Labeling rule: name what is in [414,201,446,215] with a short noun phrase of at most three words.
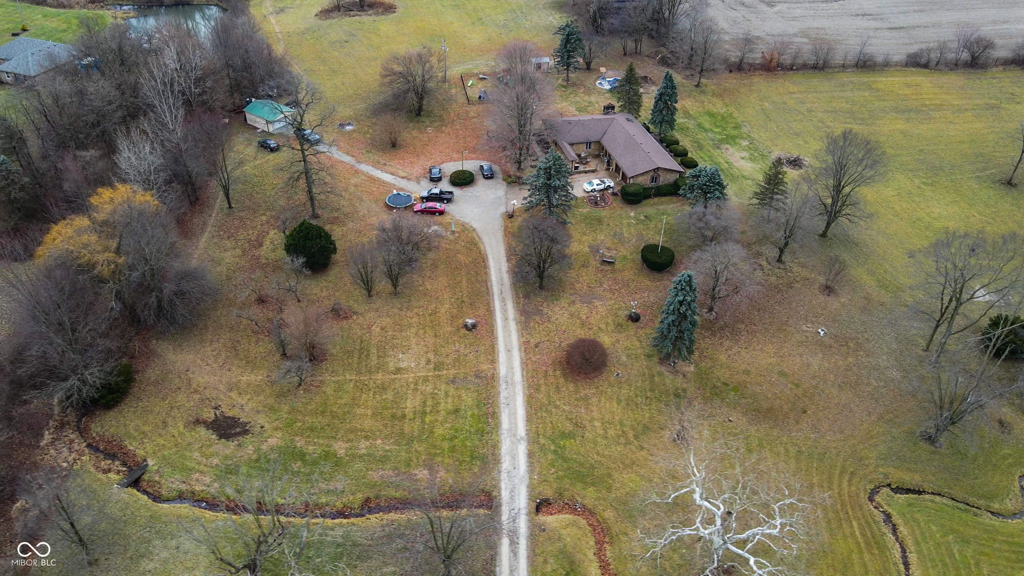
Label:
car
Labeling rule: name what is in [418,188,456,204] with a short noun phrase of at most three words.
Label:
vehicle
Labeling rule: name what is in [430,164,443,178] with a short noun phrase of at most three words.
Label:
vehicle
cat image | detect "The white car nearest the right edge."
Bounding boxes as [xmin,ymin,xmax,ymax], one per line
[584,178,612,191]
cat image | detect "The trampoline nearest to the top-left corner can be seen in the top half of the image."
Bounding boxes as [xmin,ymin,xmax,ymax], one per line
[386,193,414,211]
